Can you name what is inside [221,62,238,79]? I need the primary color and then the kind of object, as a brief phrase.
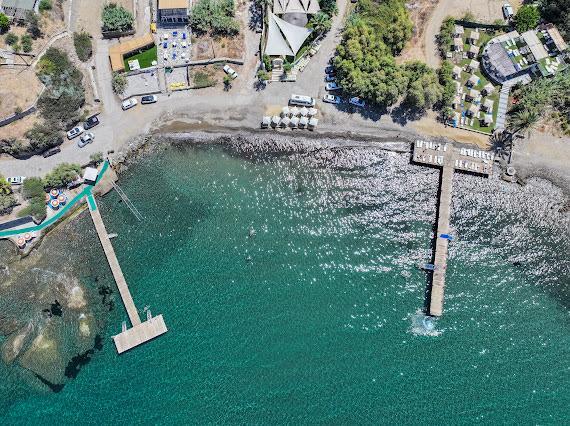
white vehicle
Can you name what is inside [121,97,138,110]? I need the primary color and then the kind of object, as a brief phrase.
white vehicle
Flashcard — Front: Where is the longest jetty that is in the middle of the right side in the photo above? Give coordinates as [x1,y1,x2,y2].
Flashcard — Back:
[410,139,495,316]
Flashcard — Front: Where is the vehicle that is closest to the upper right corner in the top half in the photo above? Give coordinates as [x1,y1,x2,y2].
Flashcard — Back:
[502,1,514,20]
